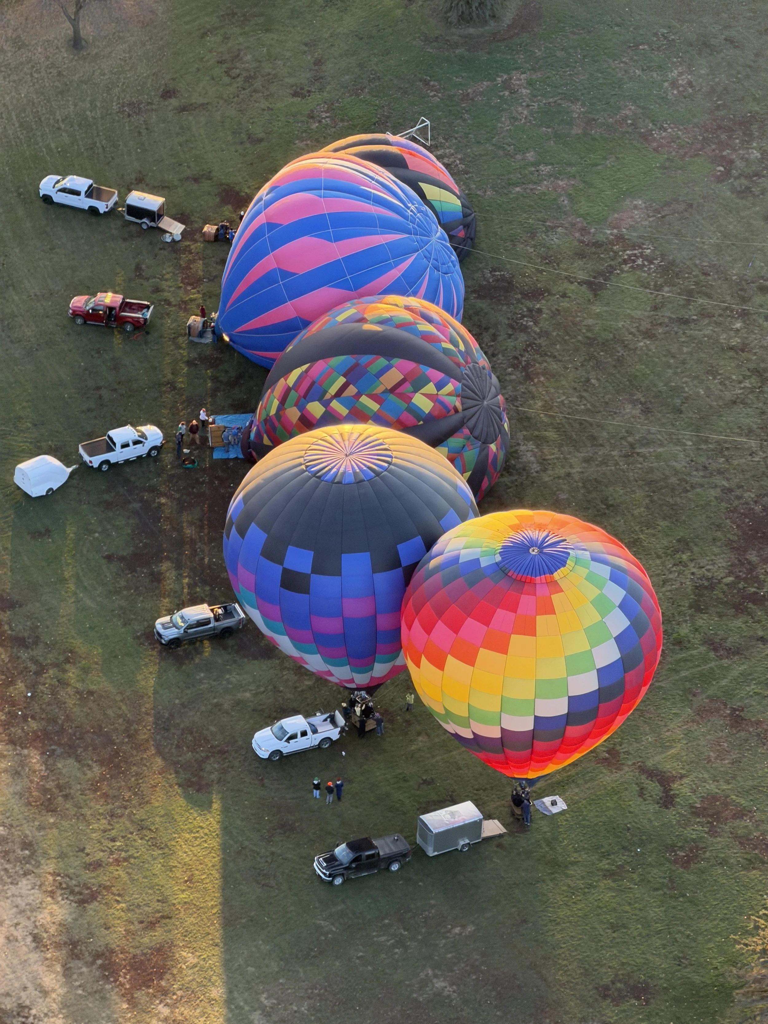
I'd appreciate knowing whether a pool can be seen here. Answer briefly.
No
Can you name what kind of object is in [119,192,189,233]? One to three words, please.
trailer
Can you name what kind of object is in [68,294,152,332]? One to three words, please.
truck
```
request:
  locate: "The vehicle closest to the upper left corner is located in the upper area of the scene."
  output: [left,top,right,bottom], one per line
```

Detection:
[38,177,119,217]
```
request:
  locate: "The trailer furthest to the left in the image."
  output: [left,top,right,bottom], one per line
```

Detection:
[15,462,69,499]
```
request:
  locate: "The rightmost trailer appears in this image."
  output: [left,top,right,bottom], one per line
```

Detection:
[412,799,509,855]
